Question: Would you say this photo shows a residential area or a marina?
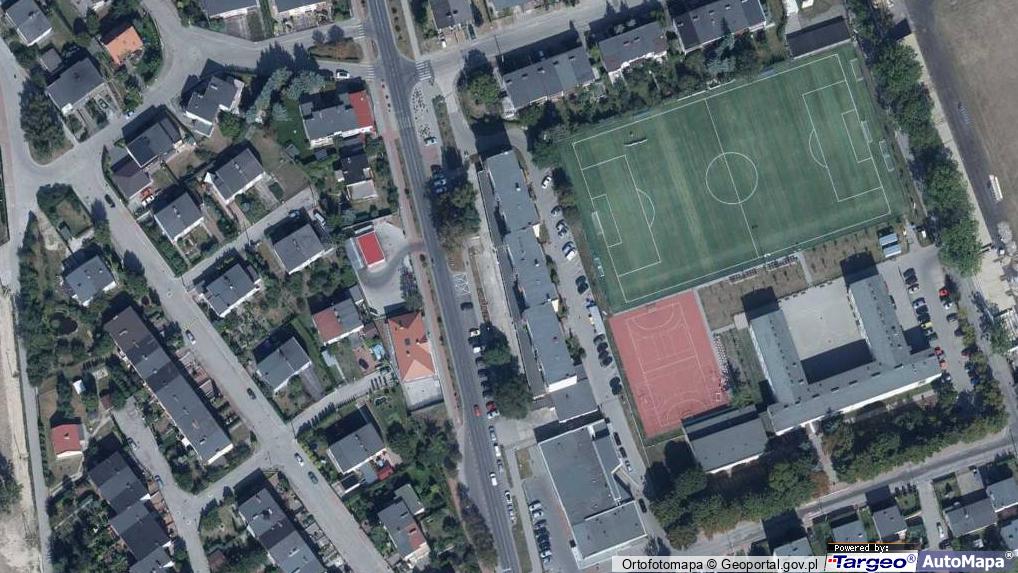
residential area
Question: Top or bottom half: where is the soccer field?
top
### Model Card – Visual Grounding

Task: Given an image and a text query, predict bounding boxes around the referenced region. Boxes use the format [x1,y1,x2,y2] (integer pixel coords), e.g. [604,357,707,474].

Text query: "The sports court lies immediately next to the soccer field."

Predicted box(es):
[609,290,731,438]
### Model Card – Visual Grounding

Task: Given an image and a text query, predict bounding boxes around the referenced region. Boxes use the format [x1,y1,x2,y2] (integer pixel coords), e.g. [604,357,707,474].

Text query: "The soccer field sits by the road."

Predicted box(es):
[559,40,906,313]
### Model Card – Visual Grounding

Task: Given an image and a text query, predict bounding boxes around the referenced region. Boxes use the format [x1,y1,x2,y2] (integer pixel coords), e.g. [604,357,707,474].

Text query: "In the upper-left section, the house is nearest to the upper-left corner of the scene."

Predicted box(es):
[5,0,53,49]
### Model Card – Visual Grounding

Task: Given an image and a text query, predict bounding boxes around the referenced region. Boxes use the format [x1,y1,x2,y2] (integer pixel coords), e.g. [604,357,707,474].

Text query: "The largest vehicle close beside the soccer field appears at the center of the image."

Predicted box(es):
[589,302,607,333]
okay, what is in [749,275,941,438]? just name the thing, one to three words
building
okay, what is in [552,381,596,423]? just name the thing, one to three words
building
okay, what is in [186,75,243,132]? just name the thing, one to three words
house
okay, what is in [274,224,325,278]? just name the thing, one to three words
house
